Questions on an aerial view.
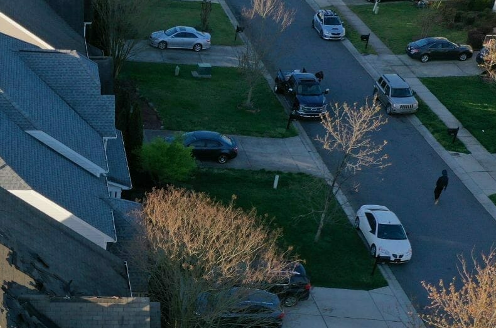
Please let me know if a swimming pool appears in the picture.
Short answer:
No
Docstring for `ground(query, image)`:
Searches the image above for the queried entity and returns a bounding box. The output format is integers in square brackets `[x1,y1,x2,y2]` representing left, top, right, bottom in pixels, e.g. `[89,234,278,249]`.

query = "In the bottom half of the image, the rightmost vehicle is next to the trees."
[358,203,415,262]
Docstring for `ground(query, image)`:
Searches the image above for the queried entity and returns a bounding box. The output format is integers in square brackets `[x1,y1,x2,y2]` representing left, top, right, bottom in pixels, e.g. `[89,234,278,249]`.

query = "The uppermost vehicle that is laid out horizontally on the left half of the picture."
[147,24,211,50]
